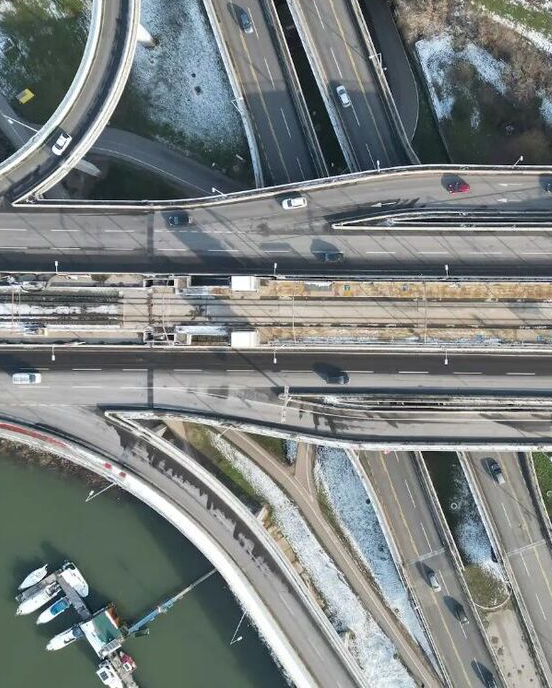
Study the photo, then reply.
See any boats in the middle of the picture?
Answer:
No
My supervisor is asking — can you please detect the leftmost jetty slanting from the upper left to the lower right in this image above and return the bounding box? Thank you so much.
[54,575,91,621]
